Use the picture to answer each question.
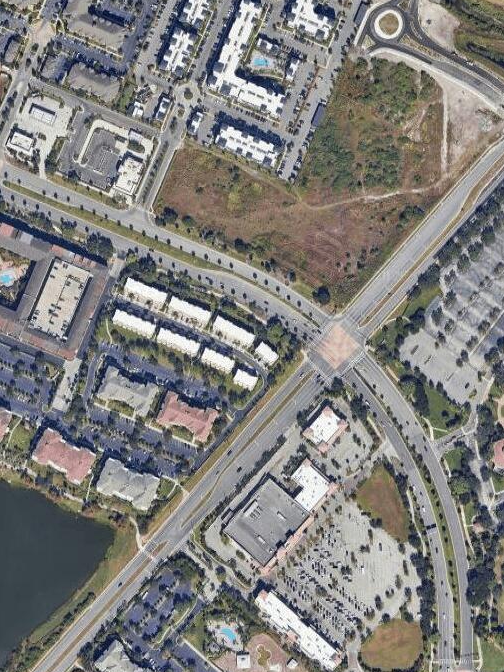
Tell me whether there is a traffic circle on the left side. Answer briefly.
No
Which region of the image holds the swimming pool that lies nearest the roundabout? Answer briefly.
top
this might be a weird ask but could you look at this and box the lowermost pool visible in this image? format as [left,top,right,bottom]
[208,622,245,651]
